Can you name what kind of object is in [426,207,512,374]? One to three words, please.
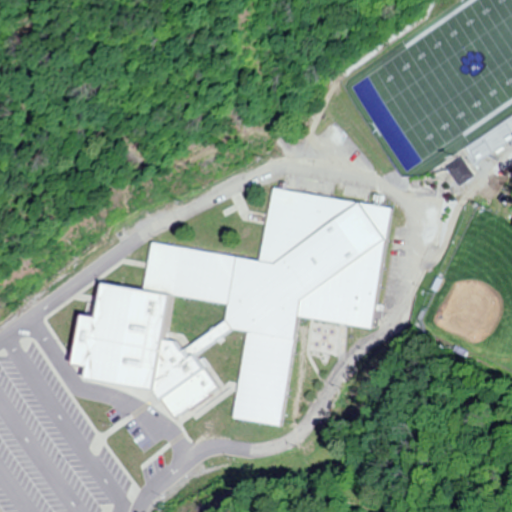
baseball field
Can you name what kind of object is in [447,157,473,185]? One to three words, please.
building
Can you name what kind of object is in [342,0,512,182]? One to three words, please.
sports field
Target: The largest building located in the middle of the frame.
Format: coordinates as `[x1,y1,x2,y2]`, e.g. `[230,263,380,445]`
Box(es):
[71,186,392,426]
